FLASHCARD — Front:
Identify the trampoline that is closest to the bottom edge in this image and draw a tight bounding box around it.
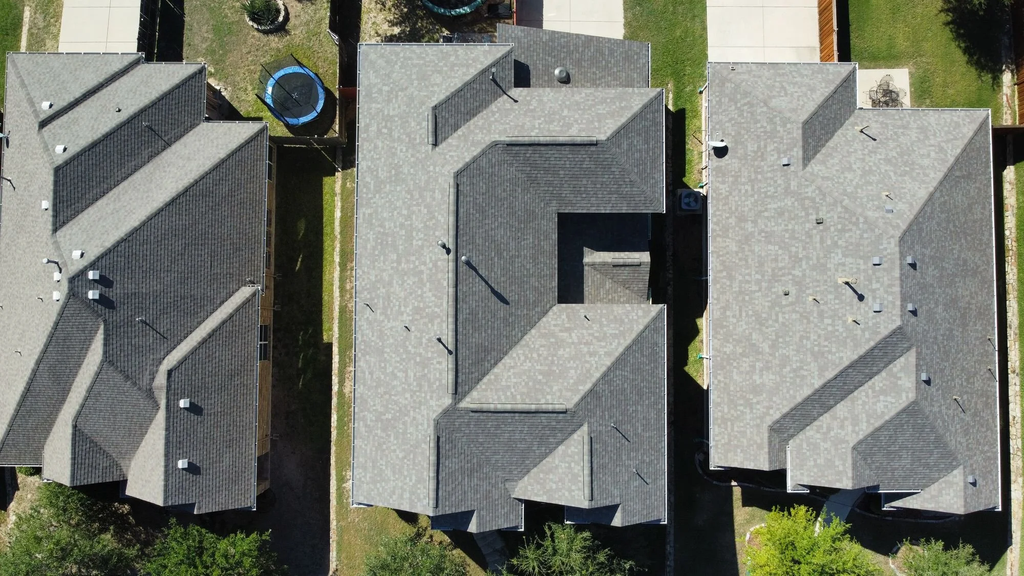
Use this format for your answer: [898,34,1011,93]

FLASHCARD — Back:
[253,54,330,130]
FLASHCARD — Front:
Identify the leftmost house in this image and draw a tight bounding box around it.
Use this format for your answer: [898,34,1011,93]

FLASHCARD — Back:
[0,51,287,514]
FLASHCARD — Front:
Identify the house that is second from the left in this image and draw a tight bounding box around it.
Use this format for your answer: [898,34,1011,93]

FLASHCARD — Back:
[351,22,667,533]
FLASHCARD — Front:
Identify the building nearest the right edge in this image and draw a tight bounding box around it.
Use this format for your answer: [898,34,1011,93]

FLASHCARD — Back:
[694,61,1002,514]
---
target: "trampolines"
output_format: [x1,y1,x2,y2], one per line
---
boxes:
[426,0,483,21]
[253,54,330,130]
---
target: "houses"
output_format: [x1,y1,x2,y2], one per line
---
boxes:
[351,22,667,533]
[694,61,1002,514]
[0,51,287,514]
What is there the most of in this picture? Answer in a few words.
buildings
